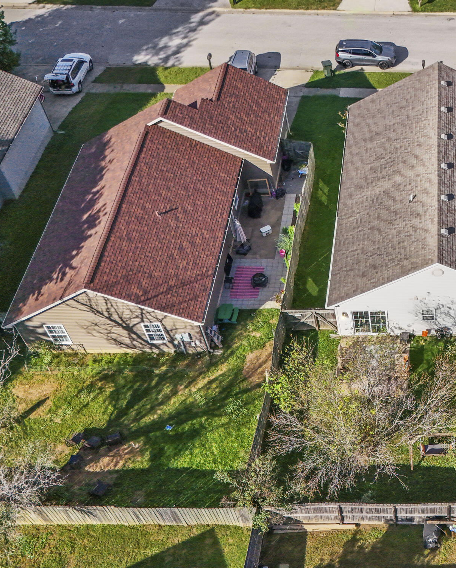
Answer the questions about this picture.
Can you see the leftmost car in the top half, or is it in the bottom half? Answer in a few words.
top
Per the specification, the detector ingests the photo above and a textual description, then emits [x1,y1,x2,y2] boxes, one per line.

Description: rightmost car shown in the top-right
[333,37,399,69]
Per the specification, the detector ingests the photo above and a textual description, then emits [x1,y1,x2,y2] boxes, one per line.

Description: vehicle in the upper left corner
[41,52,93,98]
